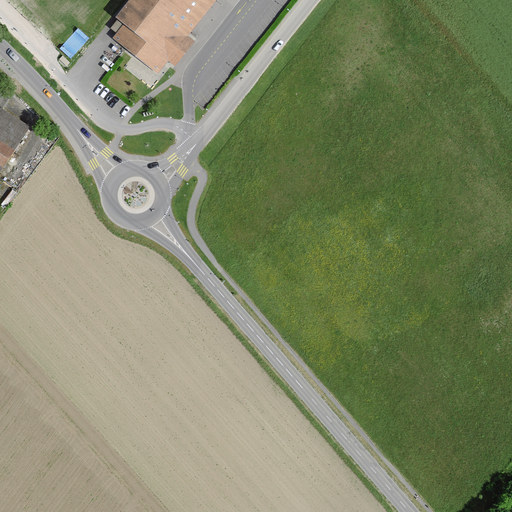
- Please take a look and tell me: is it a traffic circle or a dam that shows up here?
traffic circle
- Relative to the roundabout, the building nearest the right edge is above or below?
above it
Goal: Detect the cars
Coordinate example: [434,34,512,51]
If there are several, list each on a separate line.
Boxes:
[80,128,91,138]
[42,89,52,98]
[147,162,159,168]
[120,105,129,116]
[112,154,122,164]
[109,96,118,107]
[105,92,114,102]
[274,40,283,50]
[95,84,104,94]
[100,88,109,98]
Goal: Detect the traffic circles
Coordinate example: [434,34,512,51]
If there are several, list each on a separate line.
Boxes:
[101,160,171,230]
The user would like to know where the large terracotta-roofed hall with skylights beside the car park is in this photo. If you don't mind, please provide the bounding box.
[111,0,217,74]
